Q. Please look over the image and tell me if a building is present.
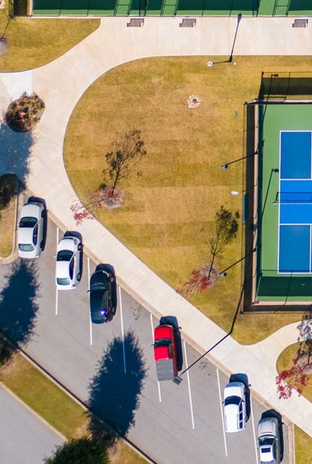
No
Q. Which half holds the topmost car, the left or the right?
left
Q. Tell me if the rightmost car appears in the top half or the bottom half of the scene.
bottom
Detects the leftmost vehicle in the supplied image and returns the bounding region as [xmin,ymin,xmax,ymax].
[19,203,49,258]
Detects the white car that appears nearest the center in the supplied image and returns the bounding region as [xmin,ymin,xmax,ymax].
[53,237,84,290]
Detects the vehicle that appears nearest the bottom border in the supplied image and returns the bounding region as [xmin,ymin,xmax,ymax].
[255,416,282,464]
